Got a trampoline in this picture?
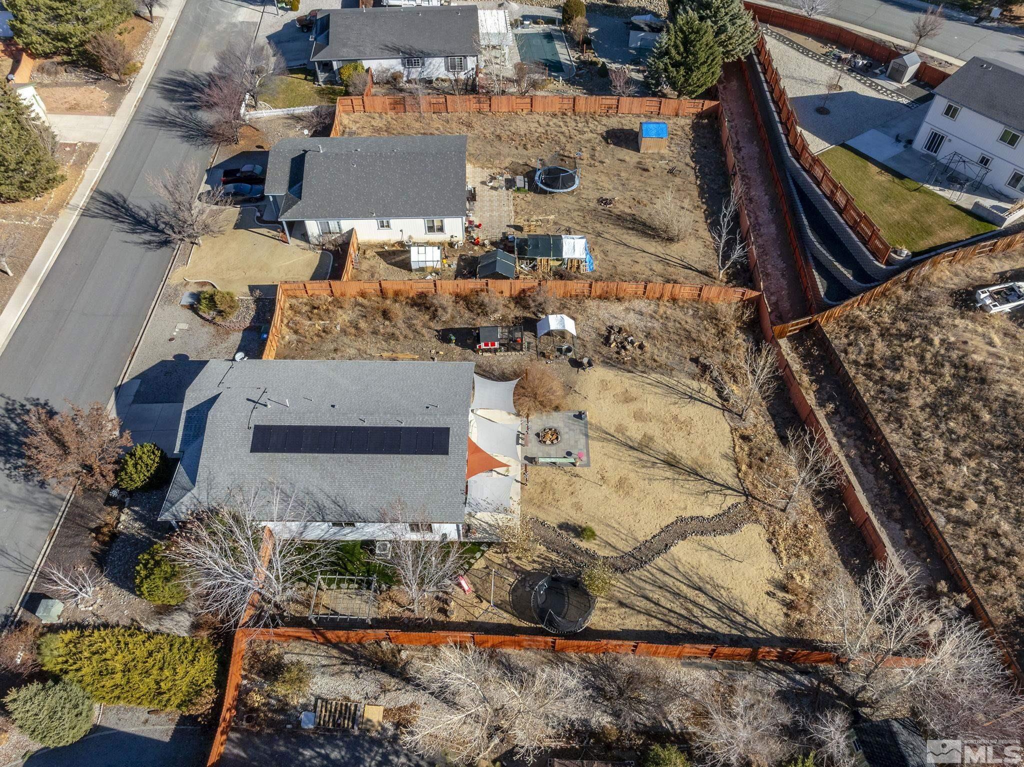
Yes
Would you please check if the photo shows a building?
Yes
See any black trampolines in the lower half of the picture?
Yes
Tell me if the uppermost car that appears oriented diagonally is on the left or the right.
left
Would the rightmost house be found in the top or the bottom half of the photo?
top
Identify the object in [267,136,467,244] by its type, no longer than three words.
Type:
house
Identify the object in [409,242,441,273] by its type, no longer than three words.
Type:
greenhouse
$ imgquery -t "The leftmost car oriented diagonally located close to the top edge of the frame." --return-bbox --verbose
[296,9,332,31]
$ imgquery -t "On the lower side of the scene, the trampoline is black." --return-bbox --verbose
[531,559,595,638]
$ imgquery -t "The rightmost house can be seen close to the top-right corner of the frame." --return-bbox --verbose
[913,57,1024,195]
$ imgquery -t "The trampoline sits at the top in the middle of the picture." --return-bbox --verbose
[535,152,581,200]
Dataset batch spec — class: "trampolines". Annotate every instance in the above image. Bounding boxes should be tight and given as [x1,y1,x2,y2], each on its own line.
[535,152,581,200]
[531,559,595,638]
